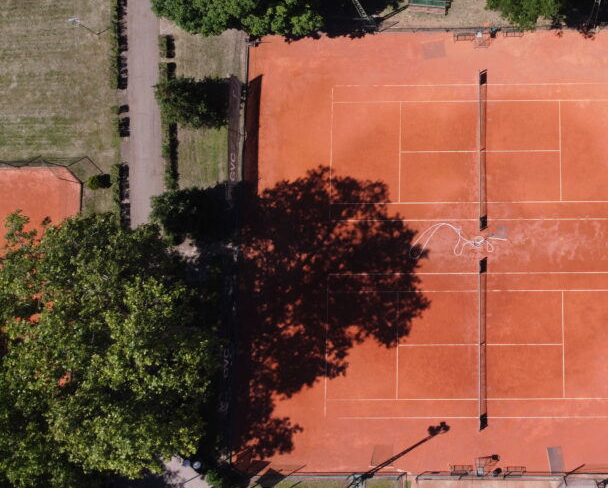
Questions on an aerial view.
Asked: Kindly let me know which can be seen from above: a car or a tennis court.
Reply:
tennis court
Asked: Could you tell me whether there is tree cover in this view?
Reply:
Yes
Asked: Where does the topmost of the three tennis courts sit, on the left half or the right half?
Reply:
right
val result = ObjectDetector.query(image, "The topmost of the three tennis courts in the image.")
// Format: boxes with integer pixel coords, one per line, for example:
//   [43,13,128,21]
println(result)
[242,27,608,248]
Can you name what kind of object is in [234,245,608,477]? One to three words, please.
tennis court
